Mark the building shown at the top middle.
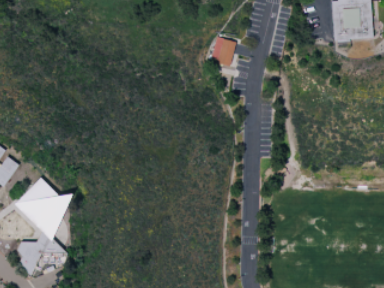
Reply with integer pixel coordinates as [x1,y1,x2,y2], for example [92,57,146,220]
[214,36,237,66]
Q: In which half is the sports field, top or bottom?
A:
bottom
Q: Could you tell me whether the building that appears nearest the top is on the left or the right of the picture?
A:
right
